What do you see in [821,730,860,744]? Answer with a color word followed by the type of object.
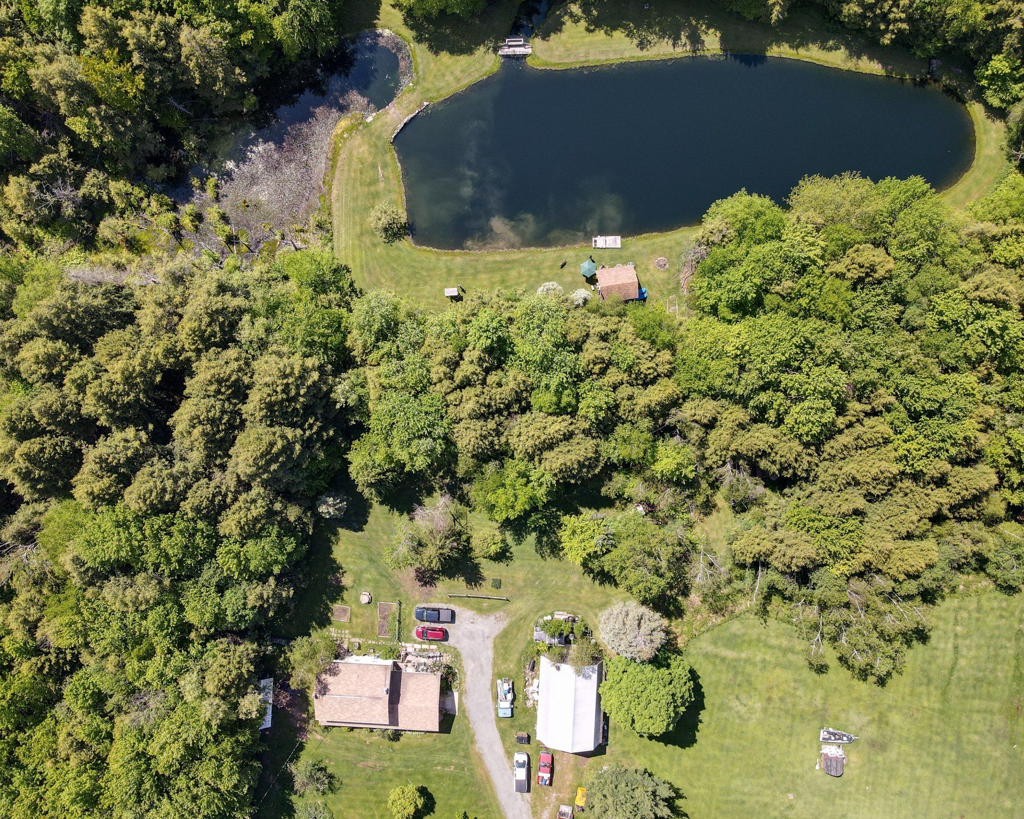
white boat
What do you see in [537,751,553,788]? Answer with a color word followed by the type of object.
red vehicle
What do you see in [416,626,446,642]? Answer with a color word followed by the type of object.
red car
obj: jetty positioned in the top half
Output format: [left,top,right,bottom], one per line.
[592,236,621,248]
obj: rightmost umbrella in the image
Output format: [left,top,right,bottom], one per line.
[581,260,596,276]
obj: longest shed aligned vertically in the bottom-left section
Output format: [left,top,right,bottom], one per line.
[258,675,278,727]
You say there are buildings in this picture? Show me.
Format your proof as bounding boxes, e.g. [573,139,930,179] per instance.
[596,265,639,303]
[258,675,278,727]
[536,650,605,754]
[307,652,441,732]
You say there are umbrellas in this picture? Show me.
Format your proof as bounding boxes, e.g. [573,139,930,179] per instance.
[581,260,596,276]
[413,660,428,674]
